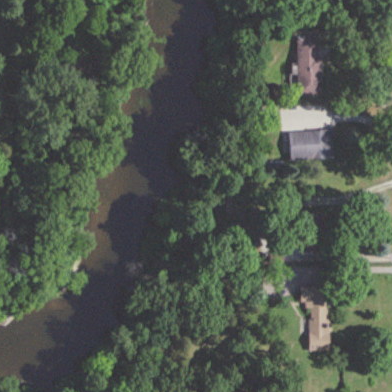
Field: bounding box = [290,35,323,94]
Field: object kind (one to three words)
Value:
house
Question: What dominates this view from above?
trees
